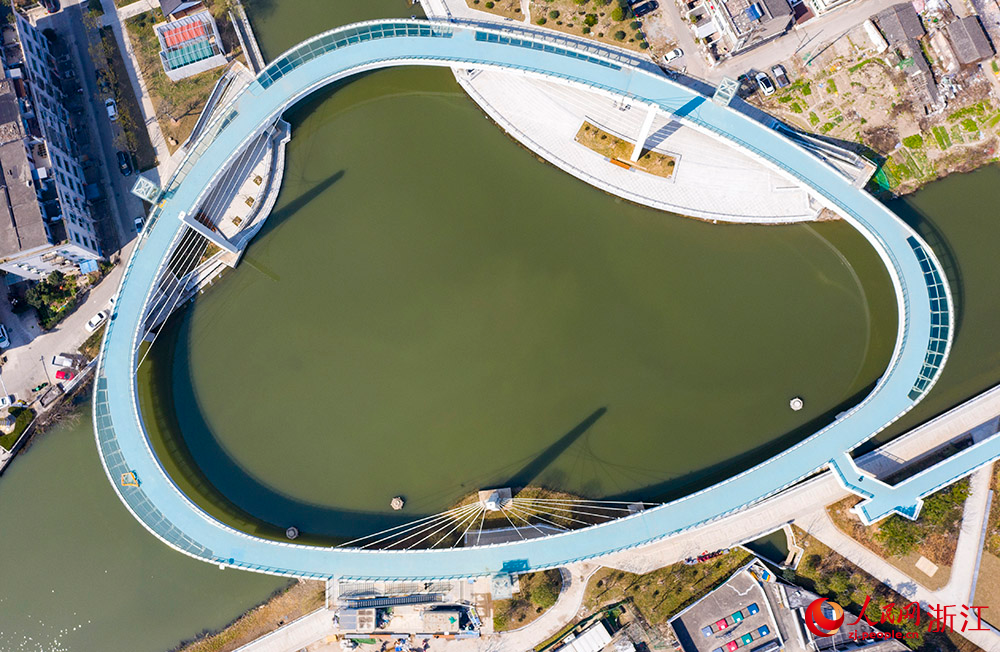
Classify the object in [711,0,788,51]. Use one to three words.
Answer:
house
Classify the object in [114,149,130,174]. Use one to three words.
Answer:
car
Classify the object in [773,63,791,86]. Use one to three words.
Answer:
vehicle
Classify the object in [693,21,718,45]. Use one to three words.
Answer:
shed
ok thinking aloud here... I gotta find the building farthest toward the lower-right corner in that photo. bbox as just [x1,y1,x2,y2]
[777,583,905,652]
